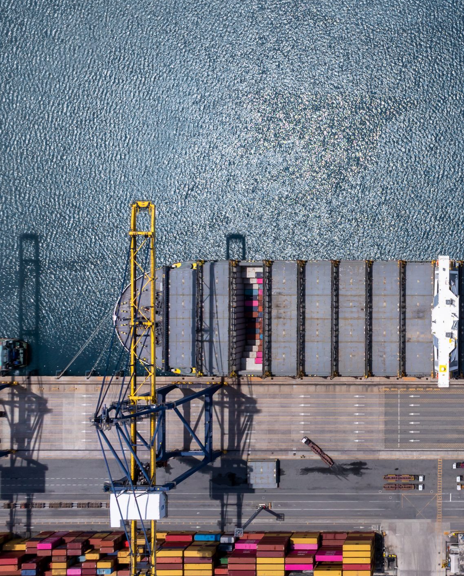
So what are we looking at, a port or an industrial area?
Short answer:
port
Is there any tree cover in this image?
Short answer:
No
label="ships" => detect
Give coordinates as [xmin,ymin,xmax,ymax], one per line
[111,256,464,387]
[0,337,37,370]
